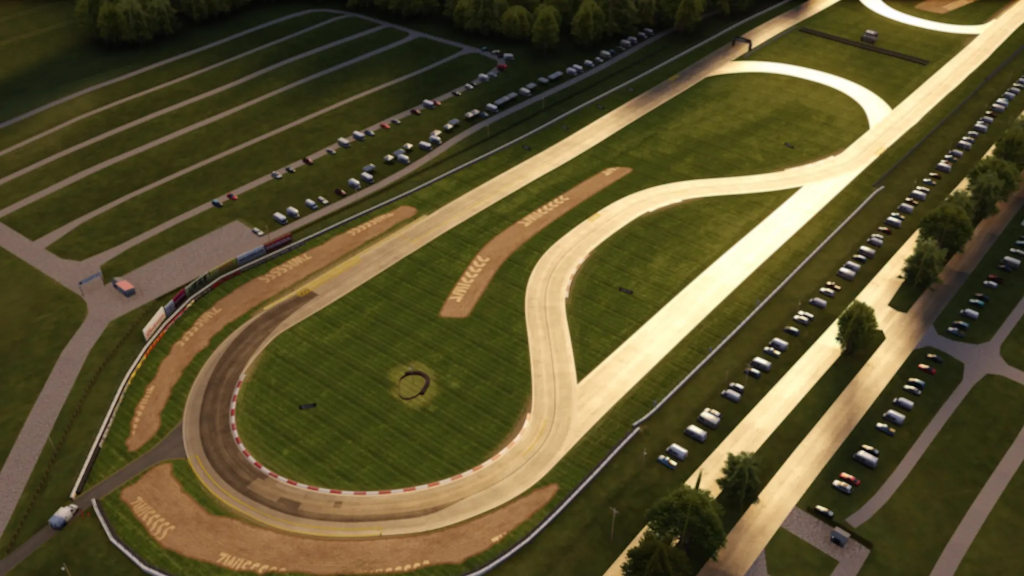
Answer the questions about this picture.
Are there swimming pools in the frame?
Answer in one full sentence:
No, there is no swimming pool in the image.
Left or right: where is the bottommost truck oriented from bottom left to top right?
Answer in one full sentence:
It is on the left.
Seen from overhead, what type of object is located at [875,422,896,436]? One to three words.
car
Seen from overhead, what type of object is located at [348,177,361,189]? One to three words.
vehicle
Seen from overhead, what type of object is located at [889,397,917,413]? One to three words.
vehicle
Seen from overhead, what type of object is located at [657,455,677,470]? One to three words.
car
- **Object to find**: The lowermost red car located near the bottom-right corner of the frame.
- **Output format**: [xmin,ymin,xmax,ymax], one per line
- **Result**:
[838,472,861,487]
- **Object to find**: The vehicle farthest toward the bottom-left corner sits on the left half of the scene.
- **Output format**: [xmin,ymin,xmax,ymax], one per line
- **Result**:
[41,500,82,532]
